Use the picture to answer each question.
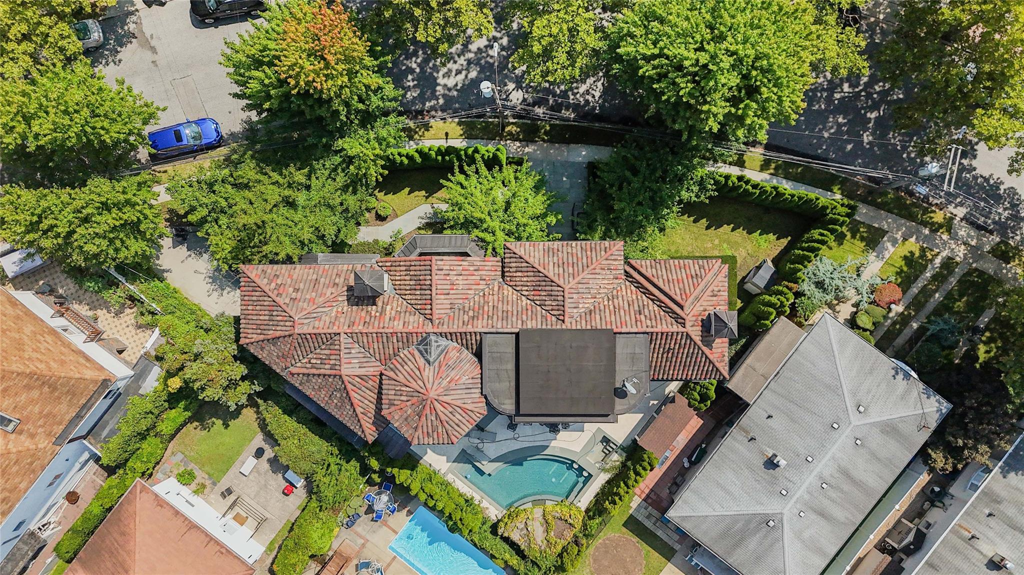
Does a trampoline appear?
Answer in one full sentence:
No, there isn't any trampoline down there.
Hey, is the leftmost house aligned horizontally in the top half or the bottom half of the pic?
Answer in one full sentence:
It is in the bottom half that the leftmost house aligned horizontally appears.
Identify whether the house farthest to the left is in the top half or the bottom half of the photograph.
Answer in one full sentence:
You can find the house farthest to the left in the bottom half.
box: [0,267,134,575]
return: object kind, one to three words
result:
house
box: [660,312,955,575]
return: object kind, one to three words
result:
house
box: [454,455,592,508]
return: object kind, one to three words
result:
swimming pool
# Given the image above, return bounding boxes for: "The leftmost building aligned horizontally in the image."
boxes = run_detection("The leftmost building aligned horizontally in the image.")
[59,477,279,575]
